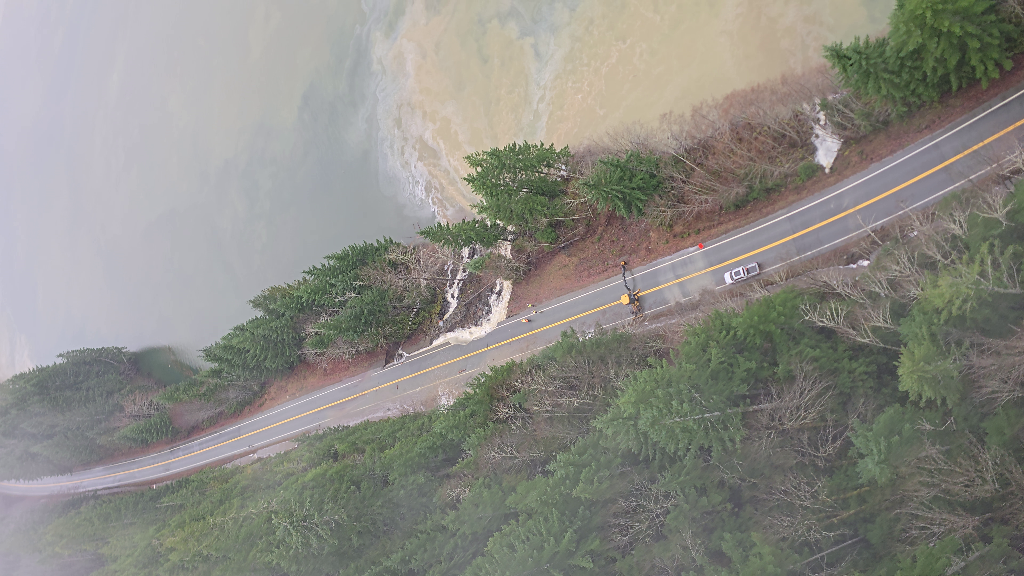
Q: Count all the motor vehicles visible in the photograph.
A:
2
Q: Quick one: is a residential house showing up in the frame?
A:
No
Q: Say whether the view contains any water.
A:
Yes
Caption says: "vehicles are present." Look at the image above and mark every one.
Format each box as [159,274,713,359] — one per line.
[725,262,761,283]
[620,260,645,321]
